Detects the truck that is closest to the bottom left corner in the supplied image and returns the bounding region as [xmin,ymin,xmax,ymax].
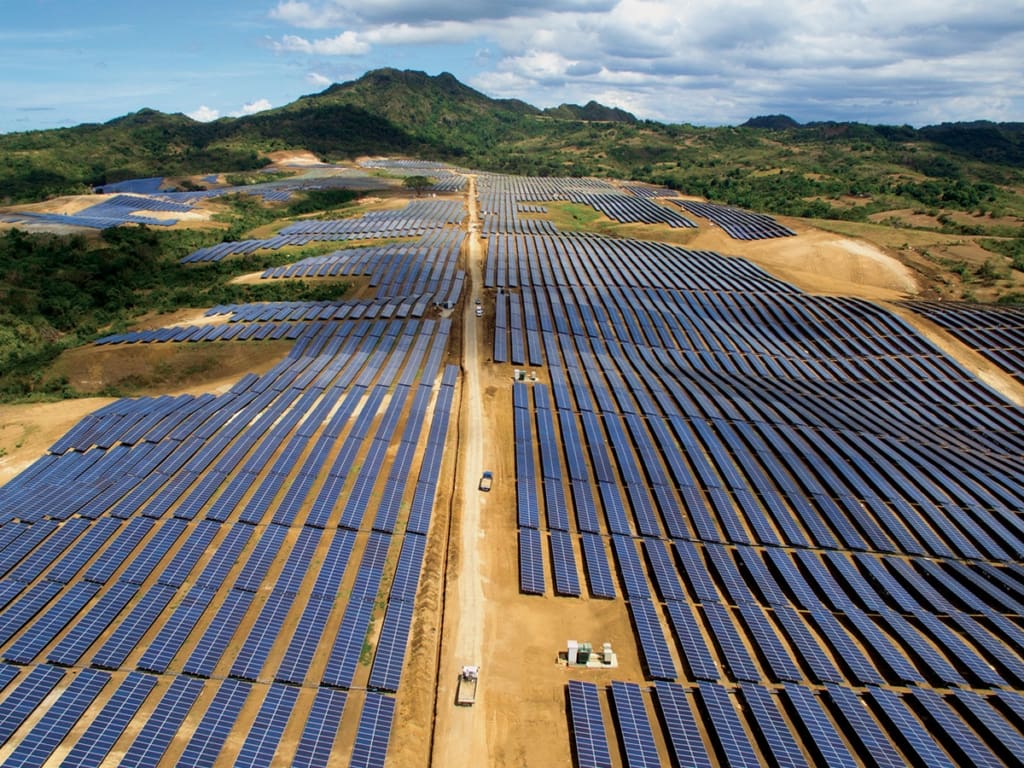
[458,664,480,705]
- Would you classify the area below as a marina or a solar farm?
solar farm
